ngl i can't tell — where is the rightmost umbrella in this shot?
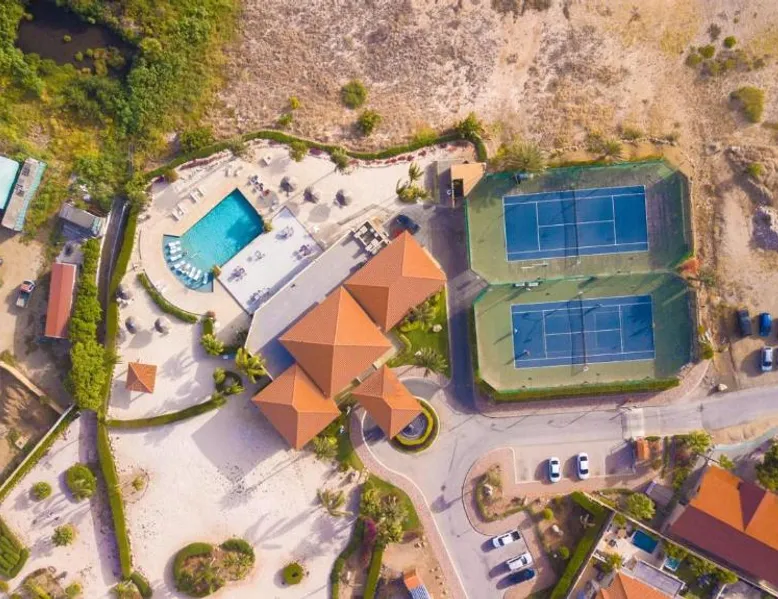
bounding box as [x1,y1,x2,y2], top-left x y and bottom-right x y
[335,189,353,207]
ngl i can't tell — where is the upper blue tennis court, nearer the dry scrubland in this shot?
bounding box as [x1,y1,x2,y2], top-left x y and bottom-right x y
[467,161,688,284]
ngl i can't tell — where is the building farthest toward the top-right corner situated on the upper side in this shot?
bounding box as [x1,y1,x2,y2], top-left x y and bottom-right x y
[450,163,485,208]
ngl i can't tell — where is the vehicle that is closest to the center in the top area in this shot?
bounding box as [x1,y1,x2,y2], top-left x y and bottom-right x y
[394,209,421,234]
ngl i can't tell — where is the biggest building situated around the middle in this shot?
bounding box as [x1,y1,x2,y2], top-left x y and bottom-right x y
[245,218,446,450]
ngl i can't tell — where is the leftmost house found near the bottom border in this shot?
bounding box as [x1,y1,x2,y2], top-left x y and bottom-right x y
[399,566,434,599]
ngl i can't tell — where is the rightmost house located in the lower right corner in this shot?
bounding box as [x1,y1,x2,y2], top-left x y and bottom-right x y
[665,464,778,580]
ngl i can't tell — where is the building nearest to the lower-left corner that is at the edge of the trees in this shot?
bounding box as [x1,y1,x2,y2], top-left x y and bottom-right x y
[125,362,162,394]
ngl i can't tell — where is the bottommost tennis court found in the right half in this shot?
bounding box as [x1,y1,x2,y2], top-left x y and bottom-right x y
[478,271,690,392]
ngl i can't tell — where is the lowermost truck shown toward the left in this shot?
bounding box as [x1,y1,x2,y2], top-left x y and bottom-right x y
[13,278,36,307]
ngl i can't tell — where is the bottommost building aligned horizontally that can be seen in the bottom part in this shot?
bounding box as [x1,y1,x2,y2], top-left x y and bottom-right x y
[587,554,685,599]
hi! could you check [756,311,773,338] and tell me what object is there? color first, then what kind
blue car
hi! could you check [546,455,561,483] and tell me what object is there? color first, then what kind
white car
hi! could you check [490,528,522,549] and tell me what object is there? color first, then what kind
white vehicle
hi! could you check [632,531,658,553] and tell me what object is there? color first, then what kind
blue swimming pool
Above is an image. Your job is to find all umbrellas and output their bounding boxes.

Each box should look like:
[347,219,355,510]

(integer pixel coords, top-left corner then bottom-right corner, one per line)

[302,186,320,204]
[117,284,134,302]
[126,315,144,334]
[280,176,299,194]
[156,315,173,334]
[335,189,353,207]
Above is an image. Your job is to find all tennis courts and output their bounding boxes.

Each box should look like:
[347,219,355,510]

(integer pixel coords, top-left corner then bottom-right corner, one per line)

[478,271,690,392]
[467,161,688,284]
